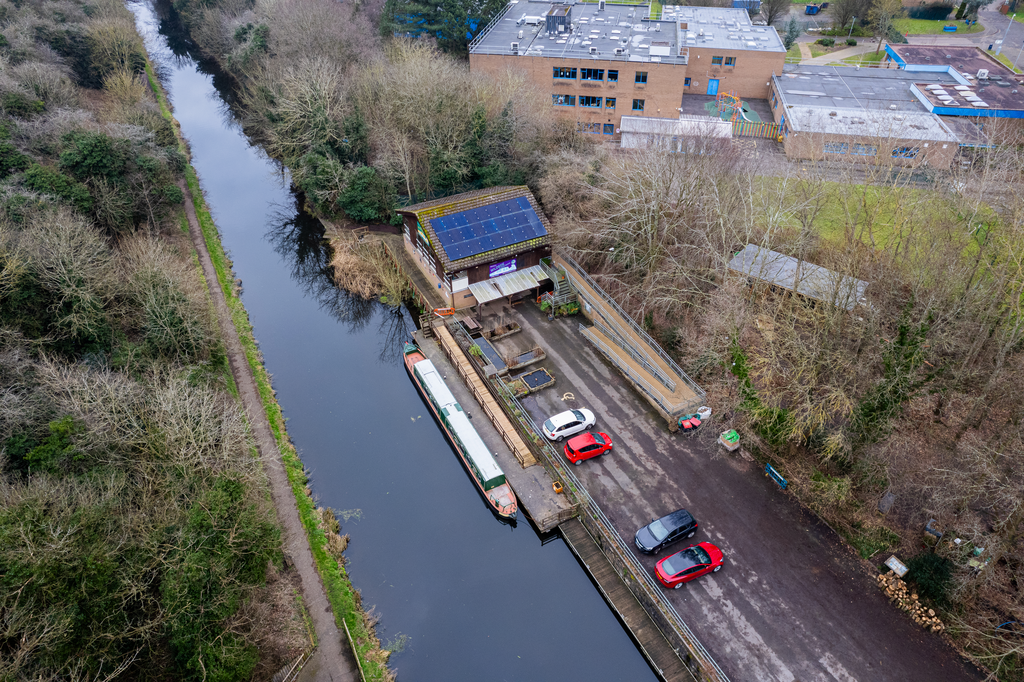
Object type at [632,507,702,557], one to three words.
car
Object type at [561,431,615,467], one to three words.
car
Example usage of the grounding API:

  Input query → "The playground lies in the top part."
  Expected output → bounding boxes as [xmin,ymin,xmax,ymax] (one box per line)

[680,92,776,126]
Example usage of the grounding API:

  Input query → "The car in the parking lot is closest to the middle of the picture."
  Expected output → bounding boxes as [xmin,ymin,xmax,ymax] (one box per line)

[541,408,599,442]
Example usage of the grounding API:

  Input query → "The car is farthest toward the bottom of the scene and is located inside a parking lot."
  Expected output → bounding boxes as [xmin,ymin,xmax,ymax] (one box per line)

[653,540,730,593]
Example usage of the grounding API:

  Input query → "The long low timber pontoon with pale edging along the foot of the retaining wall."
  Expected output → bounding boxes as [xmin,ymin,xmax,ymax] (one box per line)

[555,520,695,682]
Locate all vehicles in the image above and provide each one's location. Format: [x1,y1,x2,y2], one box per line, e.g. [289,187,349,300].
[653,540,730,593]
[561,431,615,467]
[632,507,702,557]
[541,408,599,442]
